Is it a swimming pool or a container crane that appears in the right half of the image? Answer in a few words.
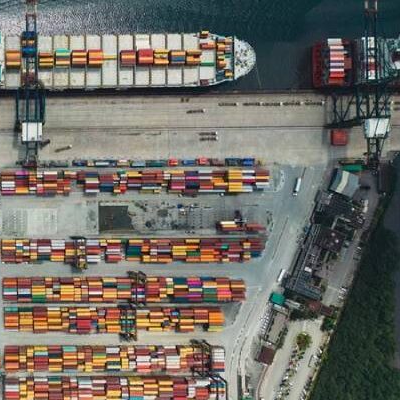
container crane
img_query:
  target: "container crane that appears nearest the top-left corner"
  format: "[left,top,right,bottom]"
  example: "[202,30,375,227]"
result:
[12,0,45,166]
